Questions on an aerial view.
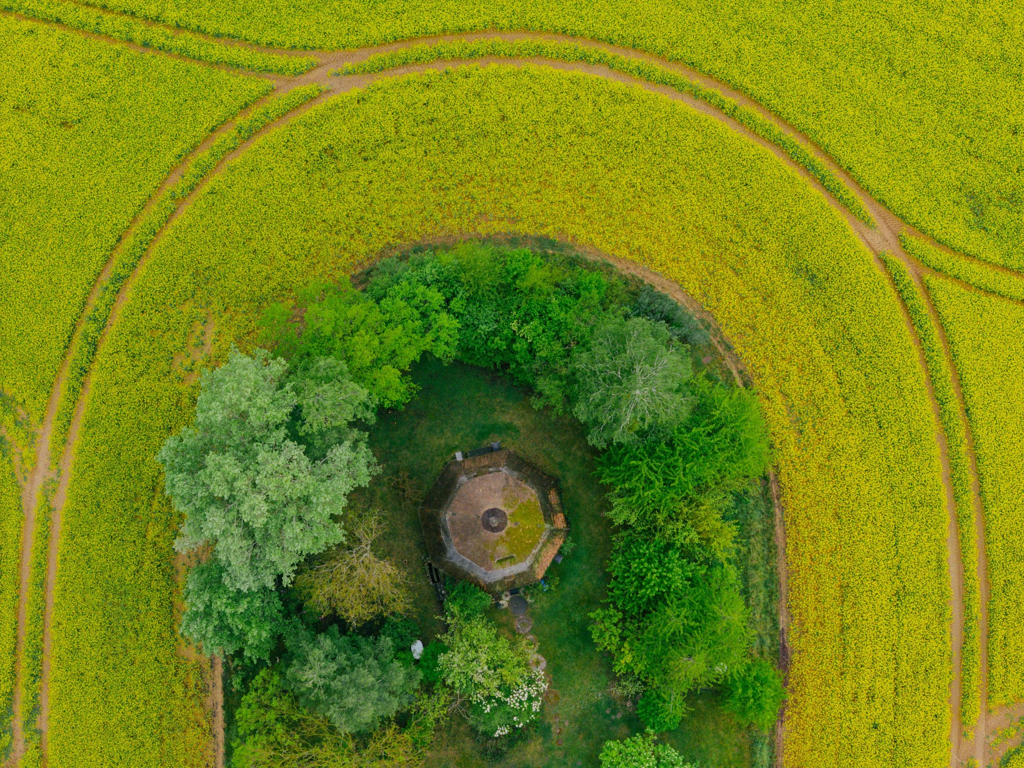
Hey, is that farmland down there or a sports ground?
farmland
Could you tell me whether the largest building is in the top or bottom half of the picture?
bottom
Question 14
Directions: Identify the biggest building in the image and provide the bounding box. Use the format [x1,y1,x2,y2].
[419,450,570,592]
